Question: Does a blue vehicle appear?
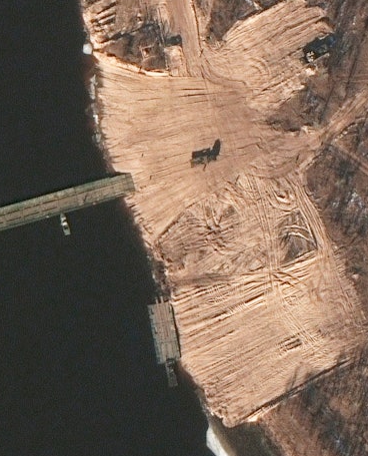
No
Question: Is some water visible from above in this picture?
Yes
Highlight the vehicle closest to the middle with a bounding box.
[189,153,217,169]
